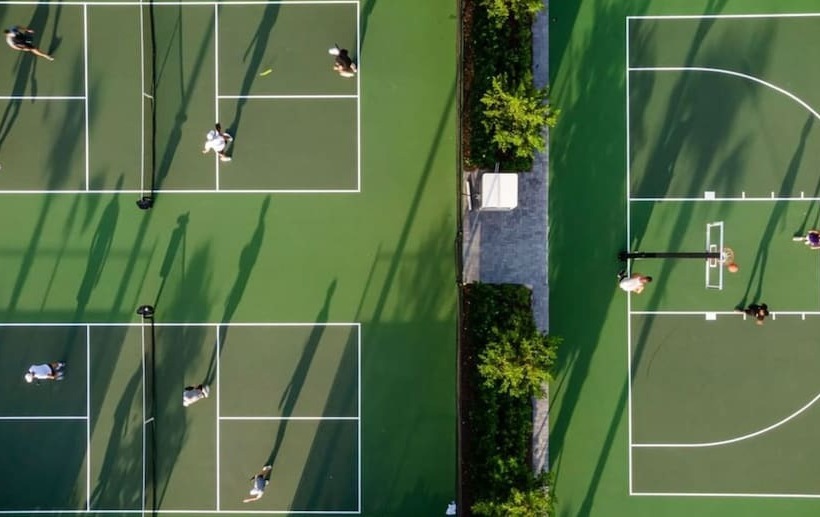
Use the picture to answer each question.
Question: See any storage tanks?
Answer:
No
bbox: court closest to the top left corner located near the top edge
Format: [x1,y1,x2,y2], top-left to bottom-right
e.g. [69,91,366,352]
[0,1,360,193]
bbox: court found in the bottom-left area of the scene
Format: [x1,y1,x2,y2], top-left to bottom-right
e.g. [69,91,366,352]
[0,323,361,513]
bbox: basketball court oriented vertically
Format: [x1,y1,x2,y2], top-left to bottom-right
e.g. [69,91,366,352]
[627,12,820,498]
